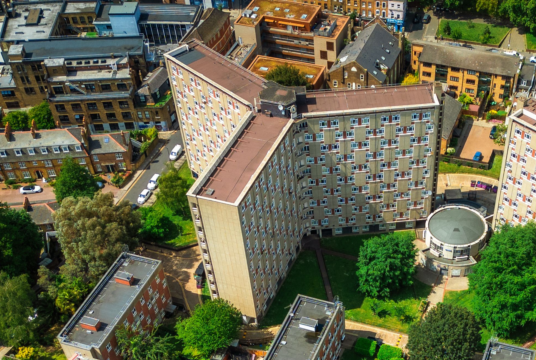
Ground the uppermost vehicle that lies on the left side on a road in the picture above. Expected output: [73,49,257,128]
[168,142,180,160]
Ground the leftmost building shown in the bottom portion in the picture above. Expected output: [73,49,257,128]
[14,196,63,242]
